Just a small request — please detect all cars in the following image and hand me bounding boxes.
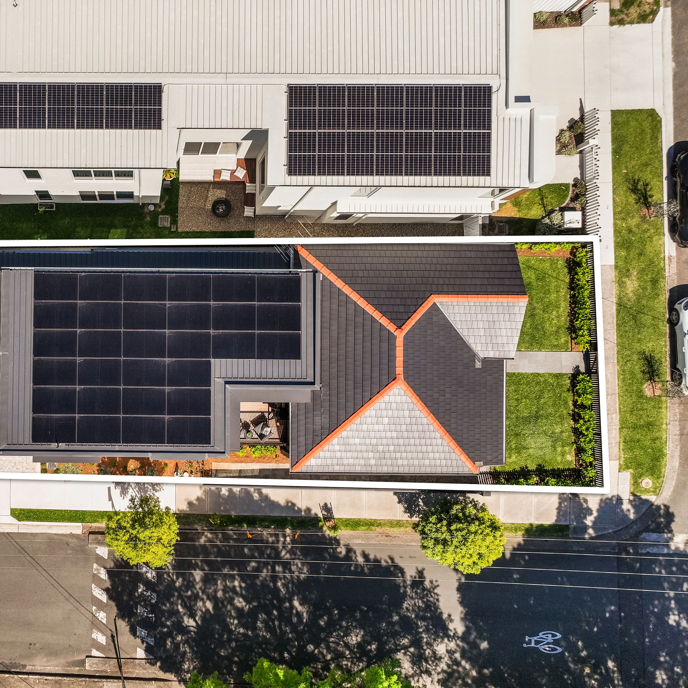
[676,299,688,393]
[668,152,688,252]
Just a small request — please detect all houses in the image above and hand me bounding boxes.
[0,0,555,228]
[0,242,530,475]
